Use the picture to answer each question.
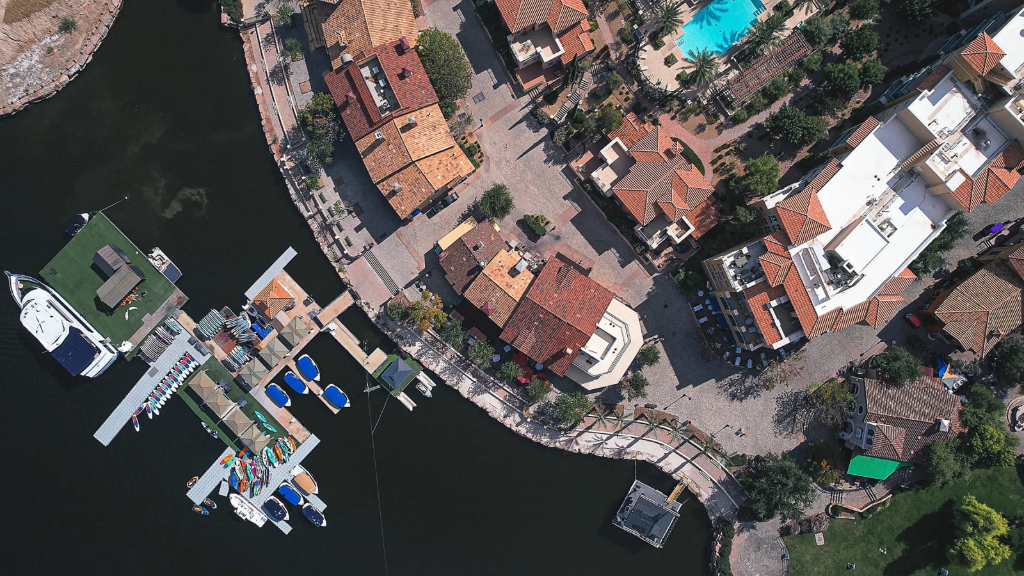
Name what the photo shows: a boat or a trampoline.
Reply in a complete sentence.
Of the two, only a boat appears.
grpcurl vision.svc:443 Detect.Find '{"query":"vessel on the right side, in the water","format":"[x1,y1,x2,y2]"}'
[612,479,683,548]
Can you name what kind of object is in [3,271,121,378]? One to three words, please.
boat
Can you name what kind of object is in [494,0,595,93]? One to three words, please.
house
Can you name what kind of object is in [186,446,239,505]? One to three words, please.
pier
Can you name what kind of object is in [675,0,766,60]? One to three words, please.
swimming pool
